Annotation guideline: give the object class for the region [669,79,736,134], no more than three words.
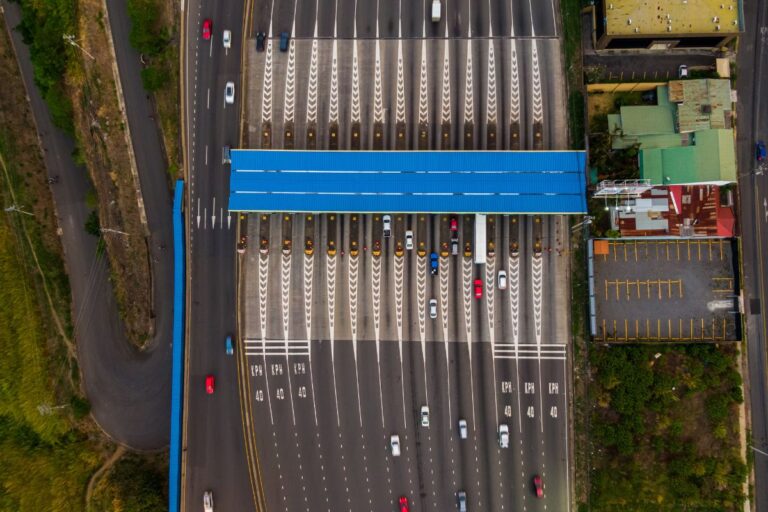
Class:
house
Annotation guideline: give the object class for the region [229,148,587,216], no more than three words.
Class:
toll station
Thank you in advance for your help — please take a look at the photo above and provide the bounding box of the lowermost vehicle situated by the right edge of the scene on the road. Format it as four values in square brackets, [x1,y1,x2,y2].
[754,142,766,161]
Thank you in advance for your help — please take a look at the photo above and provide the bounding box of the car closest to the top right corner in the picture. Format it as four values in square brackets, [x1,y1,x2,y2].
[677,64,689,80]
